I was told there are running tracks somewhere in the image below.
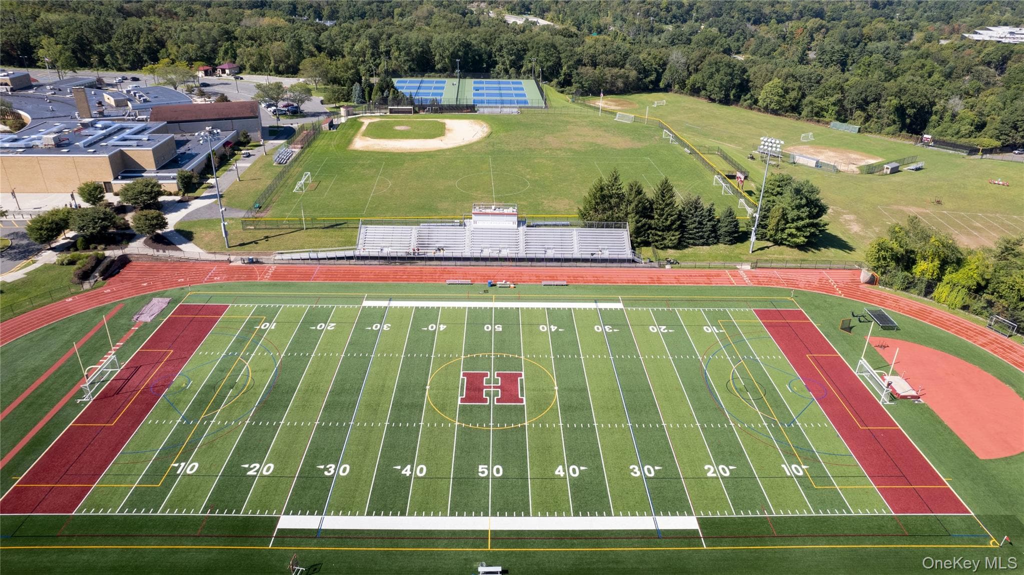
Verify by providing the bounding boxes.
[0,262,1024,575]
